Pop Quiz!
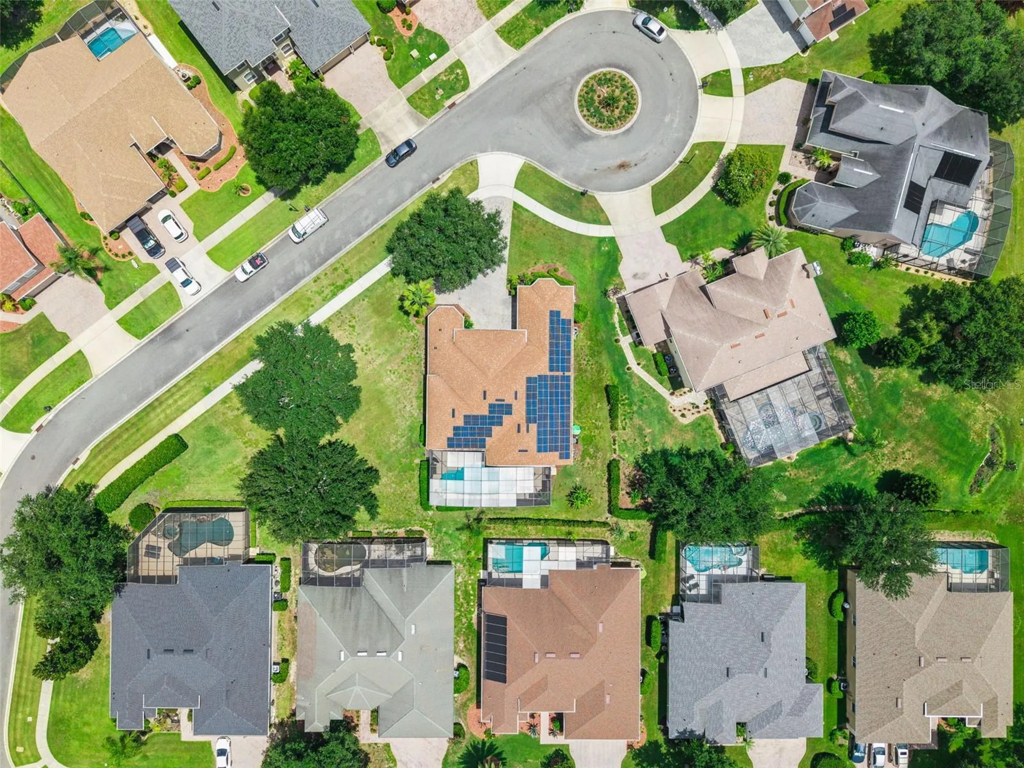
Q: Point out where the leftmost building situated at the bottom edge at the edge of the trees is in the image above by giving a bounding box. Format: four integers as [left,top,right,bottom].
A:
[110,563,275,736]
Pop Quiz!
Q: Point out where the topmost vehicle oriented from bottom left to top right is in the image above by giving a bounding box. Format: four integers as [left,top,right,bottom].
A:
[384,137,420,169]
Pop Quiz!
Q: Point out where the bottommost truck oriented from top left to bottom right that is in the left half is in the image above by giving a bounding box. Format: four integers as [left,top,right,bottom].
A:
[164,256,202,297]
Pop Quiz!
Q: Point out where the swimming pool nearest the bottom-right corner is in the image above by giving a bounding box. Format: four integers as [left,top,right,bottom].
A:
[933,549,990,575]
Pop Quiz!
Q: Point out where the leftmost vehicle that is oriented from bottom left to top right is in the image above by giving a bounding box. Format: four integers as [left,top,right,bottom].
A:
[233,251,272,284]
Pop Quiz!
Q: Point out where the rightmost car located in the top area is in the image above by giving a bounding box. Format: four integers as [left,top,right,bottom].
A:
[631,12,668,45]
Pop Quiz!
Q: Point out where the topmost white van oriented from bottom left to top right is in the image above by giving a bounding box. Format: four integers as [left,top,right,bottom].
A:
[288,206,330,243]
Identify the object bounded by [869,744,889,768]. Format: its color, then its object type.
white car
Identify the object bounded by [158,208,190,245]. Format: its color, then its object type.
white car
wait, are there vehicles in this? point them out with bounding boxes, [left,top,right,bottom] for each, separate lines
[158,208,190,245]
[631,12,668,45]
[848,730,868,763]
[384,137,420,169]
[164,256,202,297]
[214,736,233,768]
[233,251,272,284]
[127,215,166,259]
[288,206,330,243]
[869,744,889,768]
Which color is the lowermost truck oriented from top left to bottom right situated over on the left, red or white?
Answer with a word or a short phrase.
white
